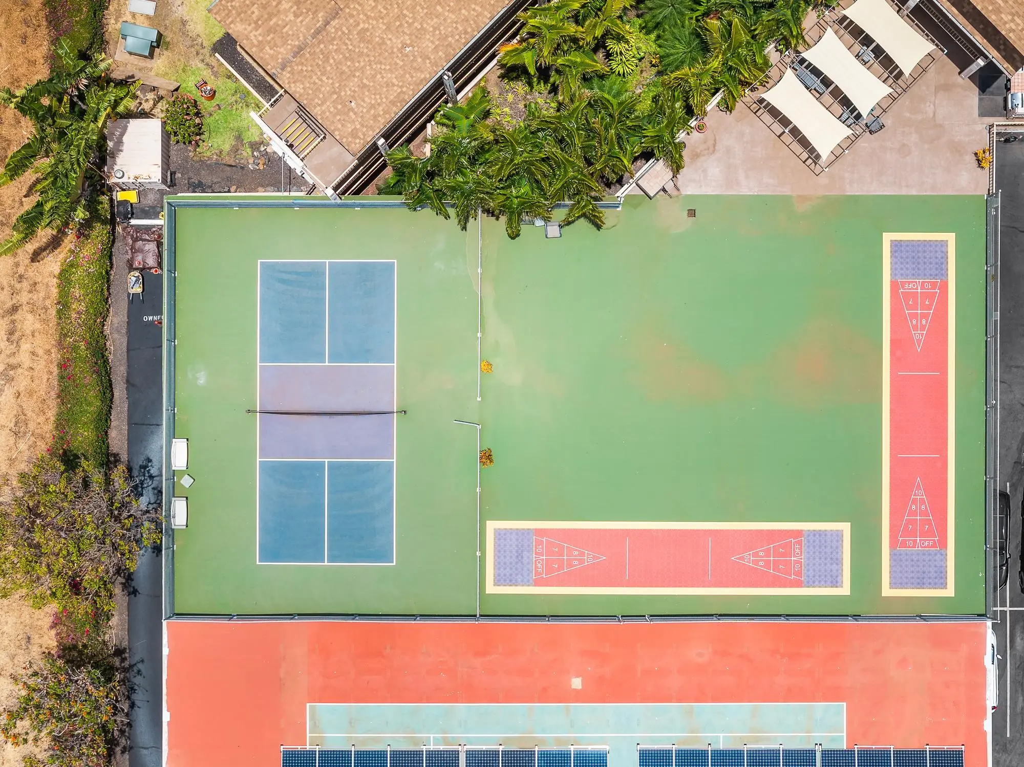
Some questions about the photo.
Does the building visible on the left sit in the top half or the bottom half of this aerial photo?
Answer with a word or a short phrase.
top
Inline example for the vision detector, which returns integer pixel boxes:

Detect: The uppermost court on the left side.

[257,260,397,565]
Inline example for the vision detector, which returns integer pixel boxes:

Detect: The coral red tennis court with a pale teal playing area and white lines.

[164,619,992,767]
